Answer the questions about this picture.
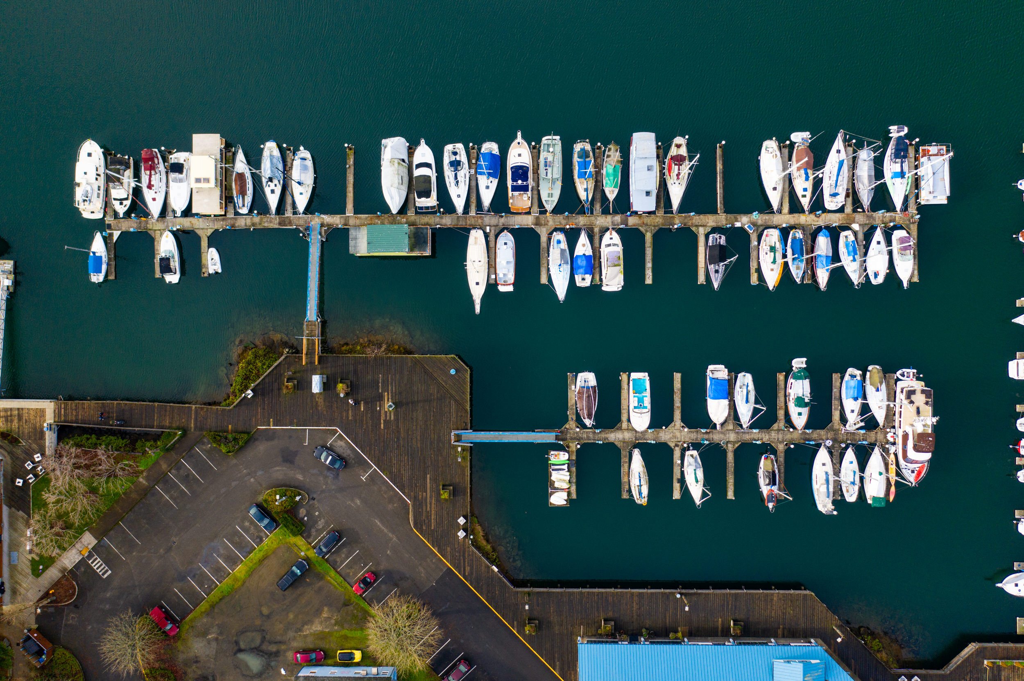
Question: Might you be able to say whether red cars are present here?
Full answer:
Yes, there's a red car here.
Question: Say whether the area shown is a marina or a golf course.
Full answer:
It's a marina.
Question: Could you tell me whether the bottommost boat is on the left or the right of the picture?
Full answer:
The bottommost boat is on the right side of the image.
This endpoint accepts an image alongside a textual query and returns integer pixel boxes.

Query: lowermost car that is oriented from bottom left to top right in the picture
[441,658,472,681]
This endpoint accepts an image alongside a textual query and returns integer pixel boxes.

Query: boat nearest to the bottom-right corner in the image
[993,570,1024,598]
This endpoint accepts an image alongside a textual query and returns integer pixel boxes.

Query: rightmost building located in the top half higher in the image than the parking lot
[349,224,434,256]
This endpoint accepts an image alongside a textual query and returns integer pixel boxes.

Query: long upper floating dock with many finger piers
[106,143,919,284]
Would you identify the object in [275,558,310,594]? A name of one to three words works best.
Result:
truck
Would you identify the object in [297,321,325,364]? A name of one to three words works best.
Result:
pier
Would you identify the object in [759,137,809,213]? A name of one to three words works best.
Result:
boat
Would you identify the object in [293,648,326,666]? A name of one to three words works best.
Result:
car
